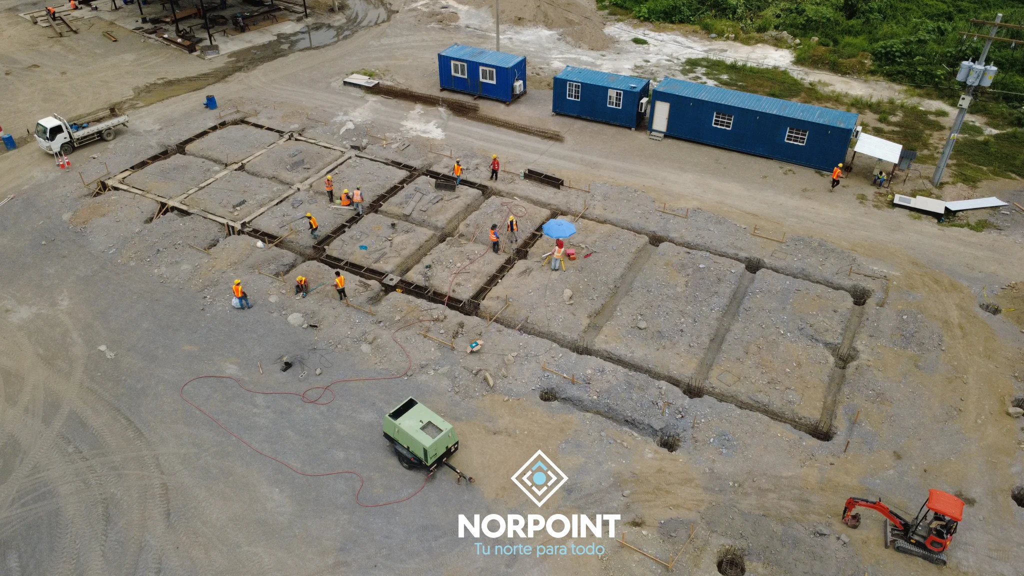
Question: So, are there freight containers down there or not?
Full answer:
Yes, a freight container is visible in the scene.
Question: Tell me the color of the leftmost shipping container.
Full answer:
The leftmost shipping container is blue.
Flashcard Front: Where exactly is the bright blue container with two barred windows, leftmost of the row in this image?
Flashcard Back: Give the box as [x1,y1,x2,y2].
[438,45,526,102]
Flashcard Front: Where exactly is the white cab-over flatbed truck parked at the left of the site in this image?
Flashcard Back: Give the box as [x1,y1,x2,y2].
[27,108,126,155]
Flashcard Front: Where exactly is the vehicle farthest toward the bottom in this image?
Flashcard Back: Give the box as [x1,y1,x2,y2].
[842,487,969,566]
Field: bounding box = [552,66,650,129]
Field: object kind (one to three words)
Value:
shipping container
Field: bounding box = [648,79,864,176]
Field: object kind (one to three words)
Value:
shipping container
